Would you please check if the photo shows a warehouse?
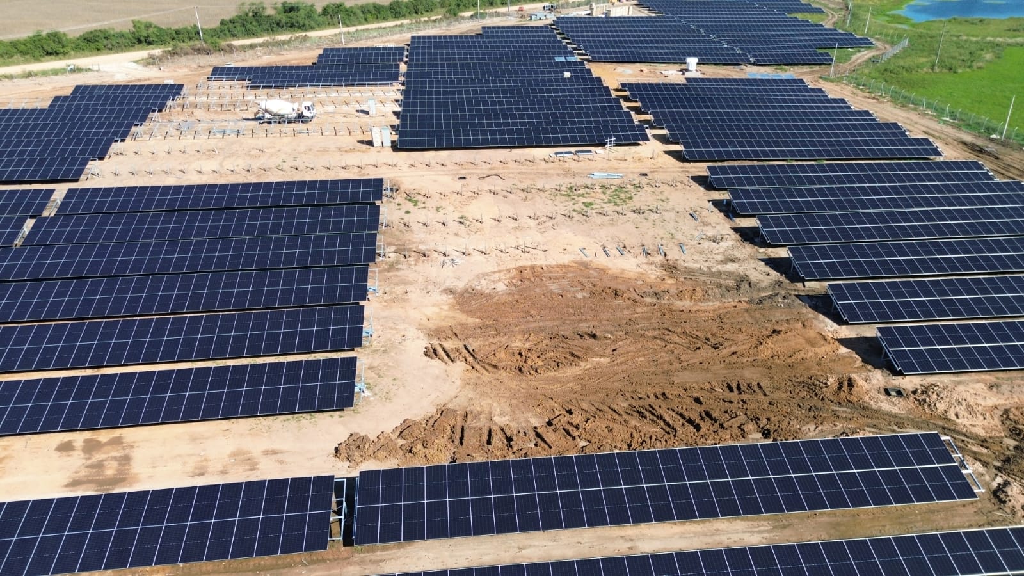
No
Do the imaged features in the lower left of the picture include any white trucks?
No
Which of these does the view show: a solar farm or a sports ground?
solar farm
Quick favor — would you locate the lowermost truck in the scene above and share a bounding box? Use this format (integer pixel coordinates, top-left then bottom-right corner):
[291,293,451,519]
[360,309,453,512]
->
[253,98,317,123]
